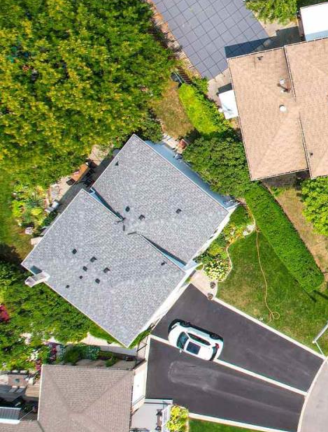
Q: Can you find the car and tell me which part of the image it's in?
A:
bottom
